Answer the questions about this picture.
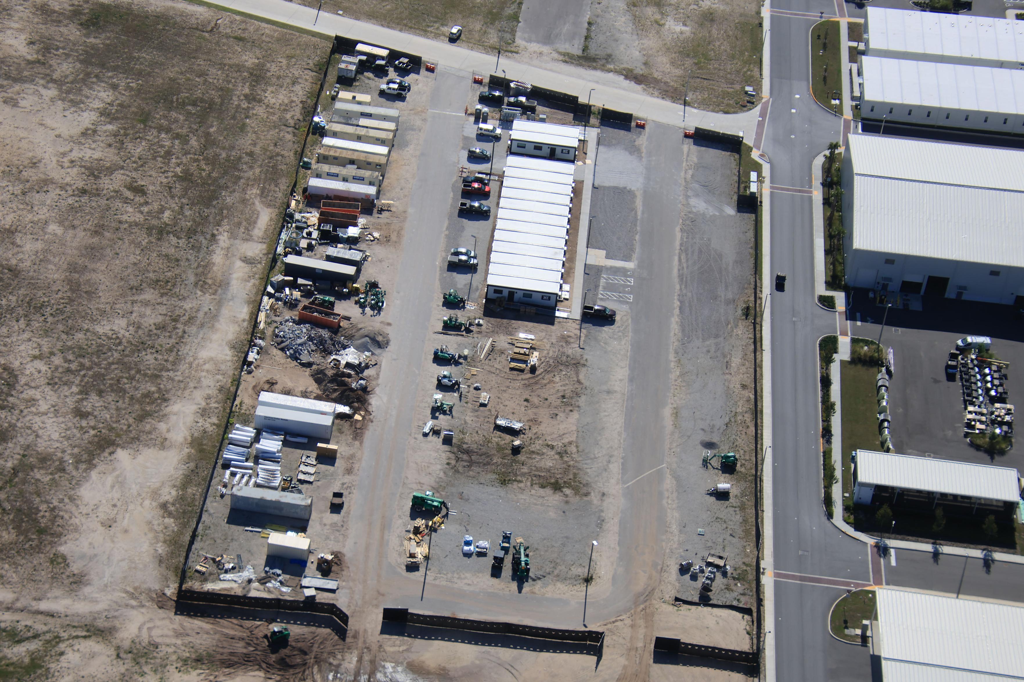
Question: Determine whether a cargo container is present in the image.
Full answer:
Yes, there is a cargo container in the image.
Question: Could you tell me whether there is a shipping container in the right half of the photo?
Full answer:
No, there is no shipping container in the right half of the photo.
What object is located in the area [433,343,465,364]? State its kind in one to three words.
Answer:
work vehicle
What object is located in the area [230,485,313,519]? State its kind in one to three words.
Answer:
shipping container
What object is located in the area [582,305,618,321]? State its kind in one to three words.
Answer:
vehicle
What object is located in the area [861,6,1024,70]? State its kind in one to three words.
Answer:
building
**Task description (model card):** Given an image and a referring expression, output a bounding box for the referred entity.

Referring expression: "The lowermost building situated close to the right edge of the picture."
[880,588,1024,682]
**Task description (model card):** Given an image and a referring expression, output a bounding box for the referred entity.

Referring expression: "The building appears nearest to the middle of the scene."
[486,156,582,309]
